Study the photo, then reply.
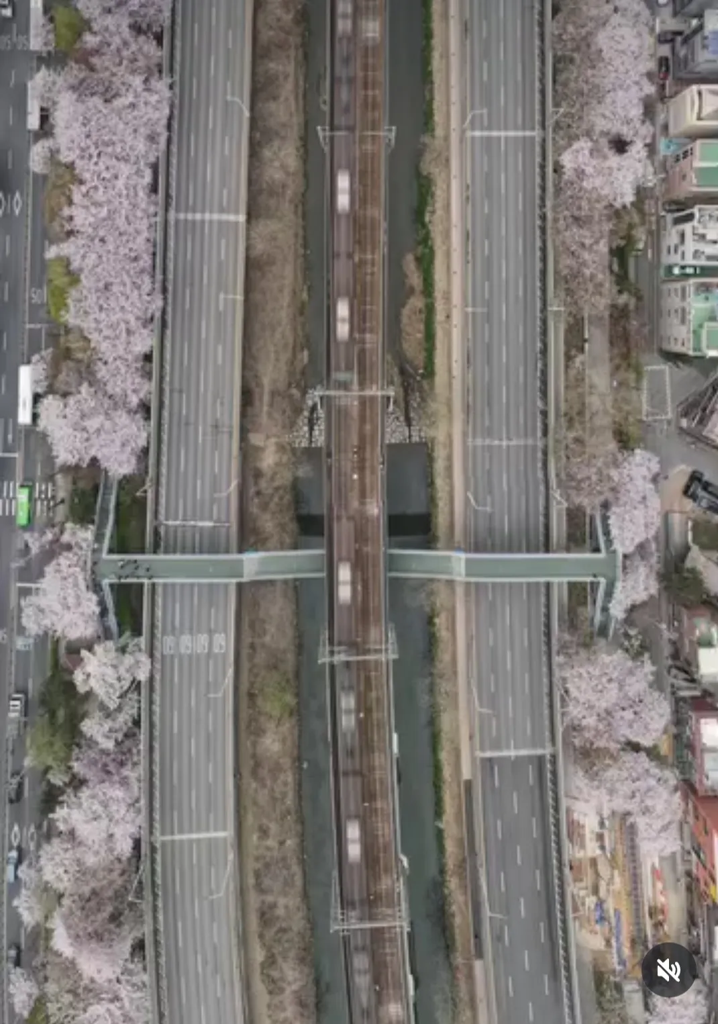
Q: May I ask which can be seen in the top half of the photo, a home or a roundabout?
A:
home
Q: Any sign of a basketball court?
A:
No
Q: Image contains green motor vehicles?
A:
Yes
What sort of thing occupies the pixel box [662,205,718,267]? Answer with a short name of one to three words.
house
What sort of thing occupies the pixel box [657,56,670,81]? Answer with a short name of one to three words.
vehicle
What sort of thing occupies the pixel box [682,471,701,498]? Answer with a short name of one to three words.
car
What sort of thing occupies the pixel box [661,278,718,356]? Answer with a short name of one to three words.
house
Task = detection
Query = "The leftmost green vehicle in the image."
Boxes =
[18,481,37,524]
